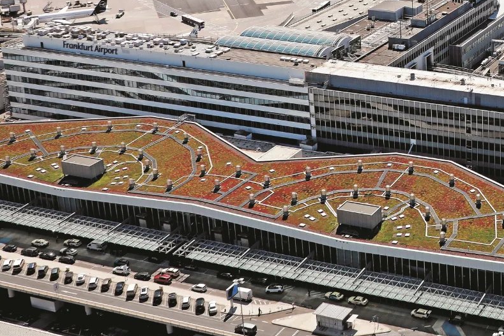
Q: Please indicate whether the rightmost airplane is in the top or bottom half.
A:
top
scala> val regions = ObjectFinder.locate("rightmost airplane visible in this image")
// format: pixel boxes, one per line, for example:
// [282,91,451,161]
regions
[189,20,212,42]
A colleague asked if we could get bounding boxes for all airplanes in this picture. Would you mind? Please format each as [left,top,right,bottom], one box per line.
[189,20,212,42]
[14,0,110,23]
